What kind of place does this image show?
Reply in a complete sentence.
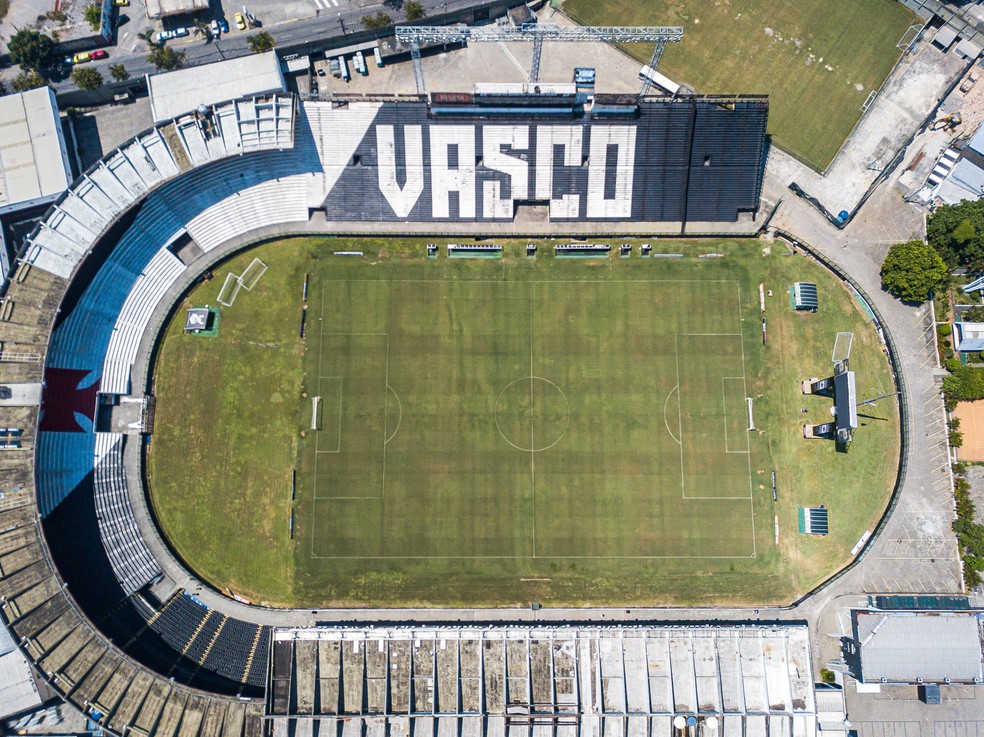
What you see here is a sports ground.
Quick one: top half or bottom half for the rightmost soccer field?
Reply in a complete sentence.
You can find the rightmost soccer field in the top half.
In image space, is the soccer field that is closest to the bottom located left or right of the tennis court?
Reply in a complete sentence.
Relative to the tennis court, the soccer field that is closest to the bottom is on the left.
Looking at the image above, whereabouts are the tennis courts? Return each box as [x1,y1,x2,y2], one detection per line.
[954,400,984,461]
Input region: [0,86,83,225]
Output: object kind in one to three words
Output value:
building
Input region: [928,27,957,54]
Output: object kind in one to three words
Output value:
shed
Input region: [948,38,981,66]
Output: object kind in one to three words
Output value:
shed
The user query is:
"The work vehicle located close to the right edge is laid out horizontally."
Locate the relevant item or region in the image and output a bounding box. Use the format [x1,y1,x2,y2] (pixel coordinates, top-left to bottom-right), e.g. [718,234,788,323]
[929,111,966,127]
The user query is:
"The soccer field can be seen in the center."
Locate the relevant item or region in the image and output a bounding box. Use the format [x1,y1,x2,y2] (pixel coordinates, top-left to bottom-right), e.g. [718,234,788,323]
[149,236,899,608]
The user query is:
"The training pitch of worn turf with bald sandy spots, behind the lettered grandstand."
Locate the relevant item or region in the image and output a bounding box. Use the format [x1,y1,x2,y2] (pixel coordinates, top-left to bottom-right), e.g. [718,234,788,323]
[561,0,927,172]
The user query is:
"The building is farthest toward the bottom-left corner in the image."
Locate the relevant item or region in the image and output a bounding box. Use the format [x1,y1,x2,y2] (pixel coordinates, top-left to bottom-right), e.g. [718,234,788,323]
[0,649,60,719]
